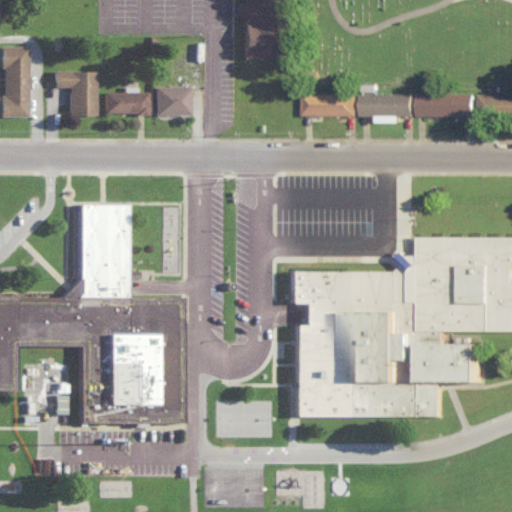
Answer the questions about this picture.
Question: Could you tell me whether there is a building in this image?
Yes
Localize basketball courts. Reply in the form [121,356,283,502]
[216,402,271,438]
[206,462,262,507]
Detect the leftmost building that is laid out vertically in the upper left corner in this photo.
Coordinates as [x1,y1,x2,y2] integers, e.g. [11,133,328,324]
[4,48,31,118]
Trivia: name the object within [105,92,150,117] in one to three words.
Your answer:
house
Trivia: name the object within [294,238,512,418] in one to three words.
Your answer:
building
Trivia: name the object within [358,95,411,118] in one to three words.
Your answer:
house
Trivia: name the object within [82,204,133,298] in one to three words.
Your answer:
building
